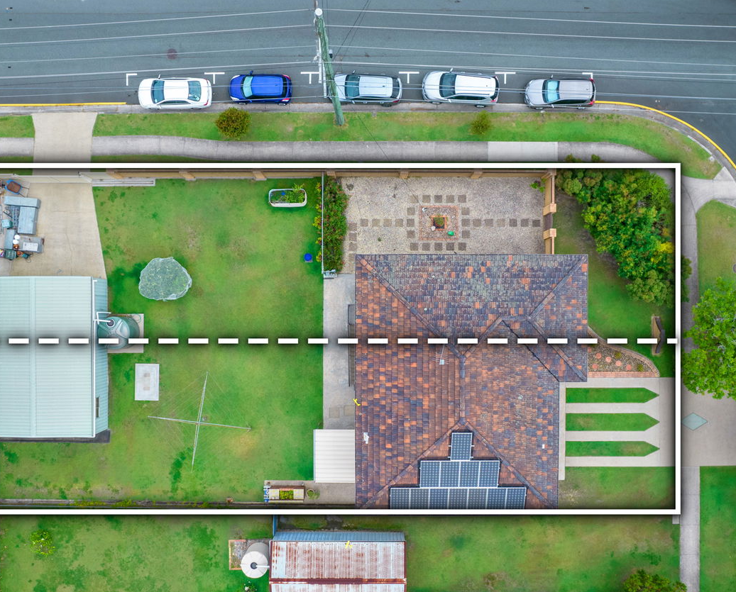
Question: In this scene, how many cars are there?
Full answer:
The photo contains 5 cars.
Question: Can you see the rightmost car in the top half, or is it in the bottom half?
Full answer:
It is in the top half that the rightmost car appears.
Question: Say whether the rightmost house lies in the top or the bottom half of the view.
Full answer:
The rightmost house sits in the bottom half of the picture.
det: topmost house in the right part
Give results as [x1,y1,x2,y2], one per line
[349,253,590,519]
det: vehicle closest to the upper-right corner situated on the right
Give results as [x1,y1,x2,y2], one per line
[522,72,595,111]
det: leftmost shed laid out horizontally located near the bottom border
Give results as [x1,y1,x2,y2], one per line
[268,532,407,592]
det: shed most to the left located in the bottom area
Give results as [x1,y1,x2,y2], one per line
[0,274,108,440]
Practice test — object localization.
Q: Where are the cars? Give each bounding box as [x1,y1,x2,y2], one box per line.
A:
[421,69,499,109]
[140,73,214,111]
[522,72,595,111]
[336,70,403,108]
[229,71,293,108]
